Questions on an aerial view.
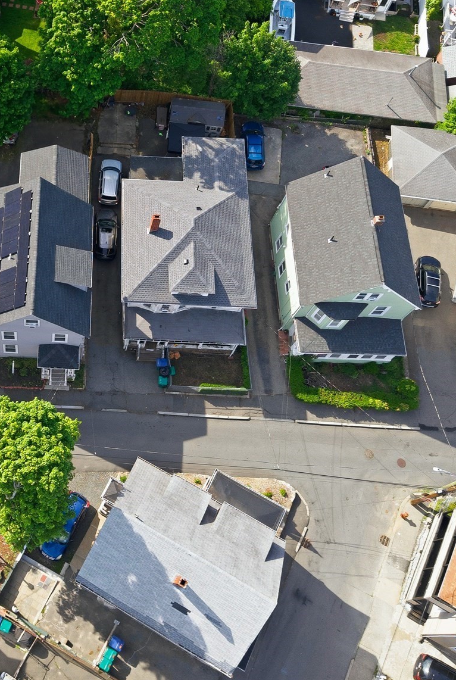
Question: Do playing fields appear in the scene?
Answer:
No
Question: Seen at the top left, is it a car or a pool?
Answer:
car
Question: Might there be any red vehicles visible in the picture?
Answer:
No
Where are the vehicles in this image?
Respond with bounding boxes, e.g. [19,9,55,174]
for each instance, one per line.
[242,121,268,170]
[410,650,456,680]
[94,208,120,262]
[416,254,448,310]
[96,157,124,208]
[43,489,93,561]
